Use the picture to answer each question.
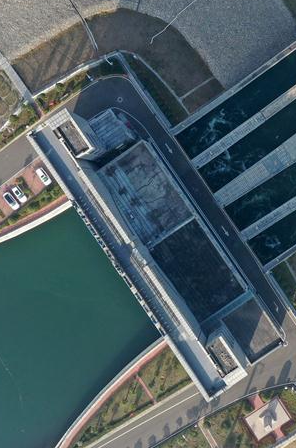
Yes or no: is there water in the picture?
Yes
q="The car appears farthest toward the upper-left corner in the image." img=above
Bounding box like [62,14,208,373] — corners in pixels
[36,168,52,186]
